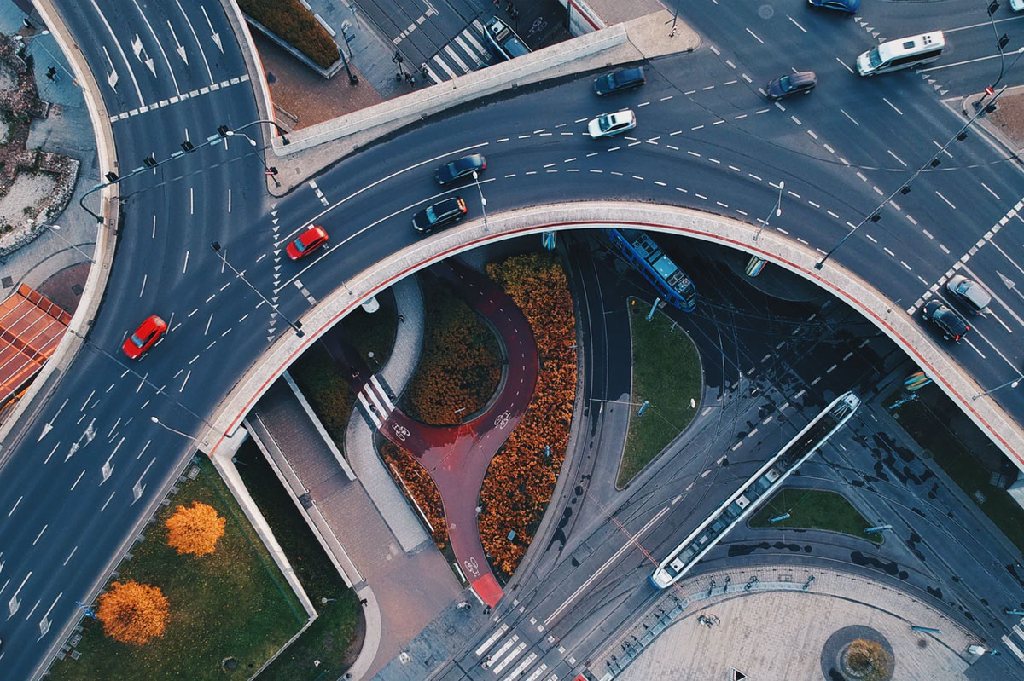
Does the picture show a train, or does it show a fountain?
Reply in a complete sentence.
I can see a train in this picture.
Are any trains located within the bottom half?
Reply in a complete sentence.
Yes, there is a train within the bottom half.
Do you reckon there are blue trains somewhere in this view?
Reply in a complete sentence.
Yes, you can see a blue train in this photo.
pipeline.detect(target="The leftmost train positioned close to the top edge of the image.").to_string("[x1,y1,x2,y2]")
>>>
[484,14,534,62]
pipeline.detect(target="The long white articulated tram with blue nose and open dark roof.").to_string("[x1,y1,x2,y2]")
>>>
[651,394,862,588]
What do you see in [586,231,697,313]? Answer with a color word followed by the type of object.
blue train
